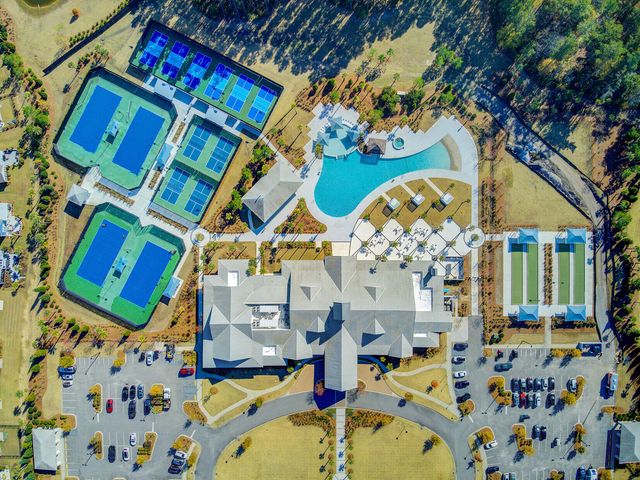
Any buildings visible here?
Yes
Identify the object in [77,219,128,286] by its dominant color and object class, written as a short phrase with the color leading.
blue tennis court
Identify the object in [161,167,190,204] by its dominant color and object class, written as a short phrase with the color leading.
blue sports court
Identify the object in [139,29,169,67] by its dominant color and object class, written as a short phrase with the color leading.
blue sports court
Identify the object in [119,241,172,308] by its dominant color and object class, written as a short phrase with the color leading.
blue tennis court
